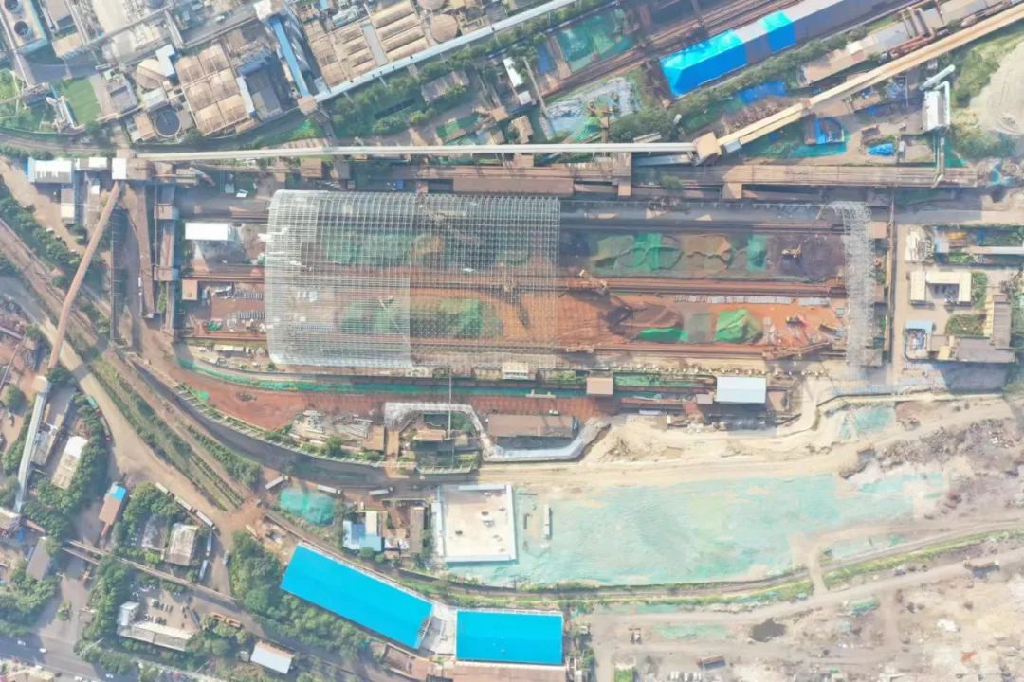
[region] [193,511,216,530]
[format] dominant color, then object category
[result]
white vehicle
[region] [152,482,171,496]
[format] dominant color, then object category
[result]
white vehicle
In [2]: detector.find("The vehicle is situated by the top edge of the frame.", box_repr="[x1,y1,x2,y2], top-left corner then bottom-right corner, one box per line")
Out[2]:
[209,10,227,22]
